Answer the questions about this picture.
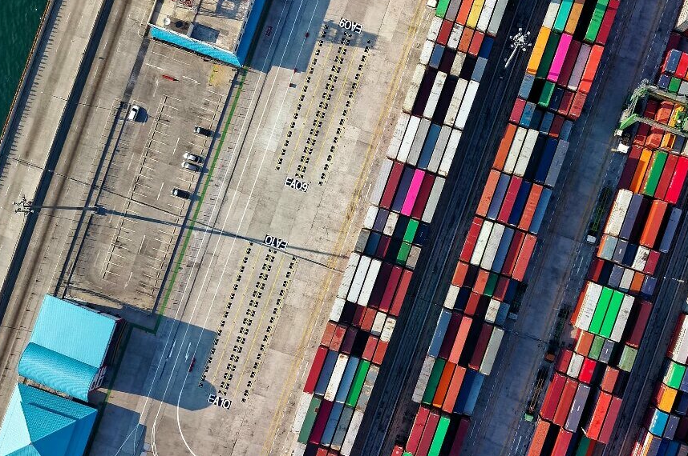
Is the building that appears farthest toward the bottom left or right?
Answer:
left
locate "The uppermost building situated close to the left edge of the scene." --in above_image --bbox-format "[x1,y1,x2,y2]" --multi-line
[20,294,133,404]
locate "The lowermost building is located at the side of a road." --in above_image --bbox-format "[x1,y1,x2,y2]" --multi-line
[0,382,100,456]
